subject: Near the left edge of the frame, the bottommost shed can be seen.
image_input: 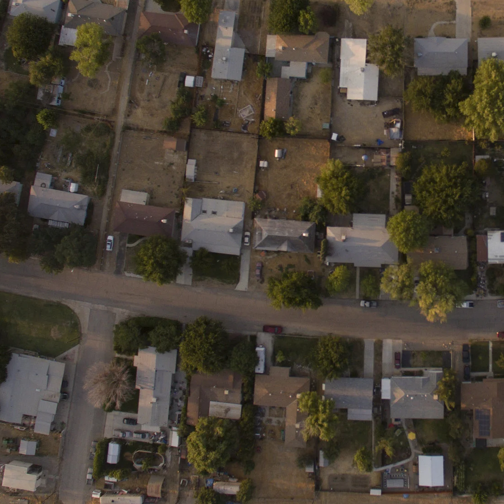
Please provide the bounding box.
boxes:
[3,458,47,491]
